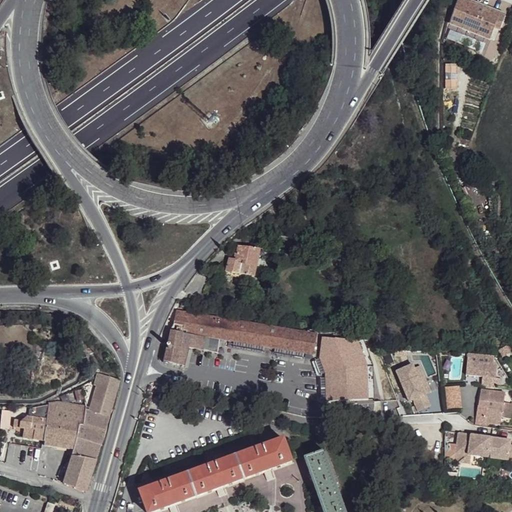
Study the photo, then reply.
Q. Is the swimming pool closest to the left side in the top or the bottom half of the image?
bottom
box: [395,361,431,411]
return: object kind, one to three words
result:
house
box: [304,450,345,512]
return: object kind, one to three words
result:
building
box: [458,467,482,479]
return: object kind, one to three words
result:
swimming pool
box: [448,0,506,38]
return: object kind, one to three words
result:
house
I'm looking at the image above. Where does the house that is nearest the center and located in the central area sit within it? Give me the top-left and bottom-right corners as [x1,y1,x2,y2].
[226,245,262,278]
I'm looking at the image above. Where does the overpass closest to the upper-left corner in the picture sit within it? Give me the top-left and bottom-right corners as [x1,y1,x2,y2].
[13,92,101,177]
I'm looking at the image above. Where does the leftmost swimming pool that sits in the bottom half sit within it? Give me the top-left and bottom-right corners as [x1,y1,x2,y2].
[412,354,436,378]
